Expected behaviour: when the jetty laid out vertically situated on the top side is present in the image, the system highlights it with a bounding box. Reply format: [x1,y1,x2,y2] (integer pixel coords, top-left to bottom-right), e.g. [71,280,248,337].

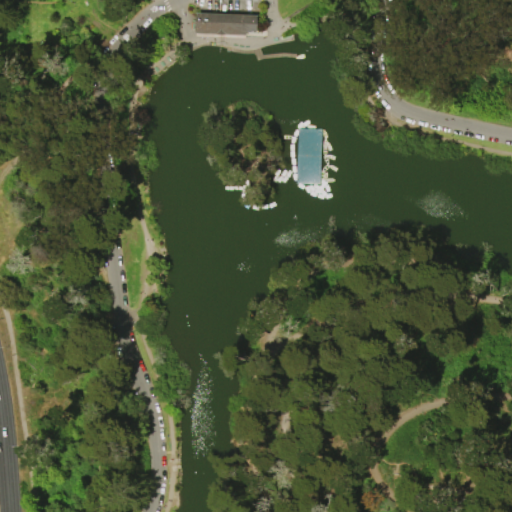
[298,128,322,184]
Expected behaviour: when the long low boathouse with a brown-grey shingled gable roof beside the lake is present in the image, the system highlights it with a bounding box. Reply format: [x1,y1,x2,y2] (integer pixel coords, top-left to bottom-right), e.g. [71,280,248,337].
[196,12,268,37]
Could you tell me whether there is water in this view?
Yes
